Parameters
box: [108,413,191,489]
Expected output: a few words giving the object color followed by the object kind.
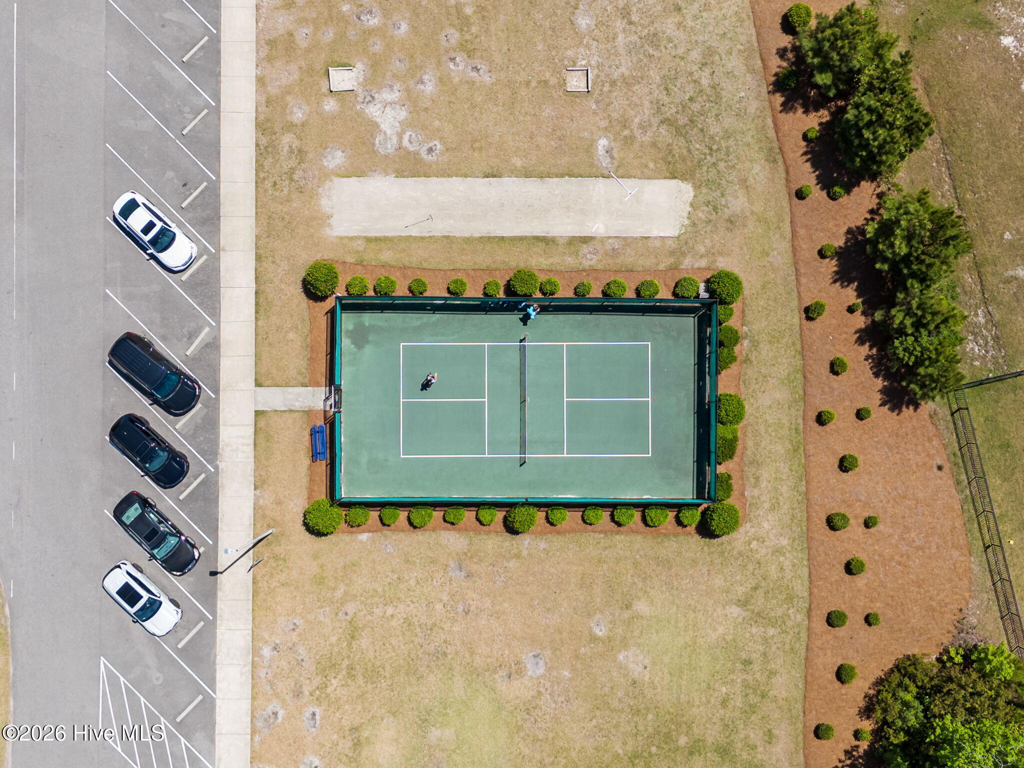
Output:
black car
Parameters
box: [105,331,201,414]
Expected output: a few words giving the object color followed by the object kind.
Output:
black car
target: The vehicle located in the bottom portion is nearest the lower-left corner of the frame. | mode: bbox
[102,559,183,634]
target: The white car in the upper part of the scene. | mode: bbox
[113,190,197,269]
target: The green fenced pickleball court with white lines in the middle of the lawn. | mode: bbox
[341,299,710,498]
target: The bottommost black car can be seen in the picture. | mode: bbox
[114,492,198,573]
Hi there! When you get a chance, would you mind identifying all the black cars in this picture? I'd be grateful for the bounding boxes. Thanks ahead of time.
[108,413,191,489]
[105,331,201,414]
[114,492,198,573]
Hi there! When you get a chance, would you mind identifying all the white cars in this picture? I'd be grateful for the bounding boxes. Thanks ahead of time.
[102,559,183,634]
[113,190,197,269]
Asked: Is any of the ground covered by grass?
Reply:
Yes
